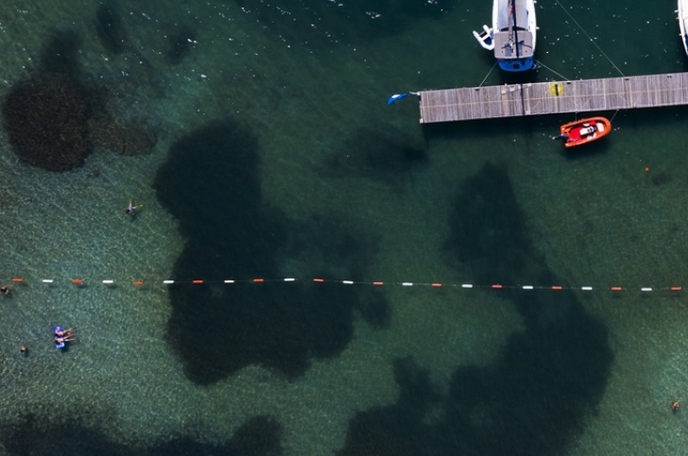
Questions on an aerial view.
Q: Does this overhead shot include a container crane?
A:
No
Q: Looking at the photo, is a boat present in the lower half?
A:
No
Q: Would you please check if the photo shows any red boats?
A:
Yes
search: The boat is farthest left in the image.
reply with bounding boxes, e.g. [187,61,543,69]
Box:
[472,22,493,50]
